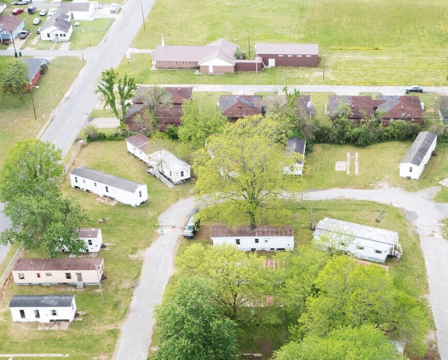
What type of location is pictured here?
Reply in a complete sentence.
This image shows a residential area.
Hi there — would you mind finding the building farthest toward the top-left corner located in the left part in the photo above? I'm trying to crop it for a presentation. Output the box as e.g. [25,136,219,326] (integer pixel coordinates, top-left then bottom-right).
[0,10,29,43]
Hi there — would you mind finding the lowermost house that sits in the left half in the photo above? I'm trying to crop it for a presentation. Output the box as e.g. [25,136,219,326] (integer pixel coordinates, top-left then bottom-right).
[7,295,74,322]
